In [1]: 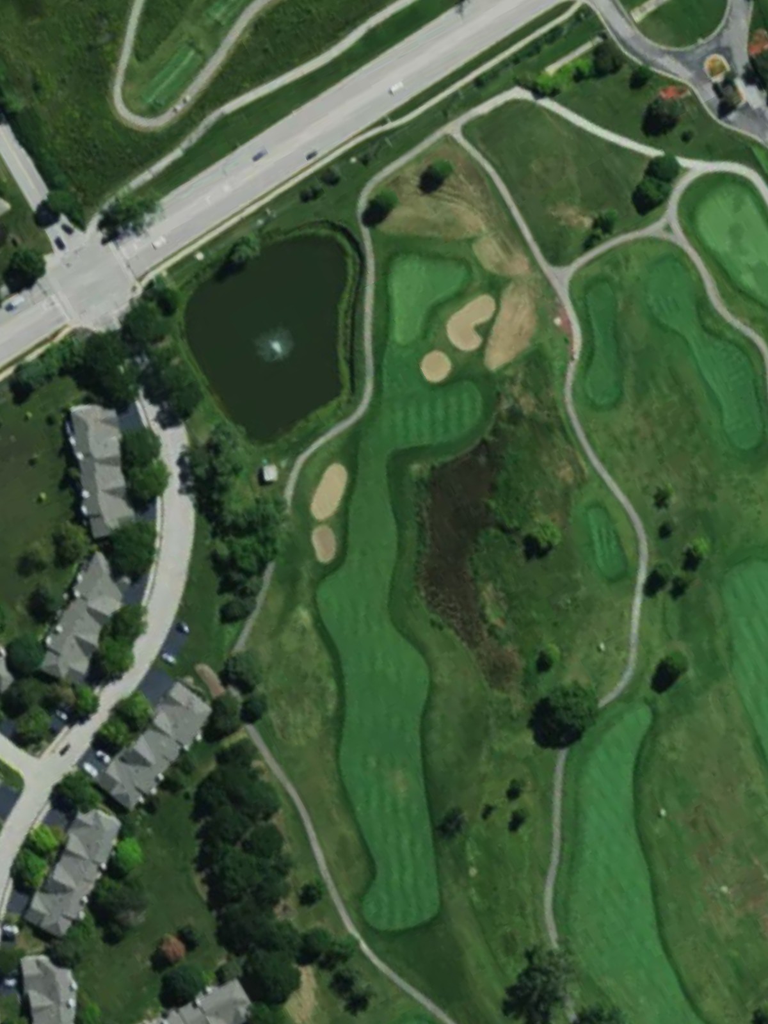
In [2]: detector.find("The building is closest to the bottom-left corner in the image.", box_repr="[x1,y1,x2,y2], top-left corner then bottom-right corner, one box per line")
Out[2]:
[20,954,76,1024]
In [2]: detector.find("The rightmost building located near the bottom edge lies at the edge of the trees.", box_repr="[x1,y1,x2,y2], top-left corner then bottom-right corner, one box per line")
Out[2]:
[160,982,254,1024]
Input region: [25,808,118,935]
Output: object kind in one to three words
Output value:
house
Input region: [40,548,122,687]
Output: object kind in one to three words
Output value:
house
